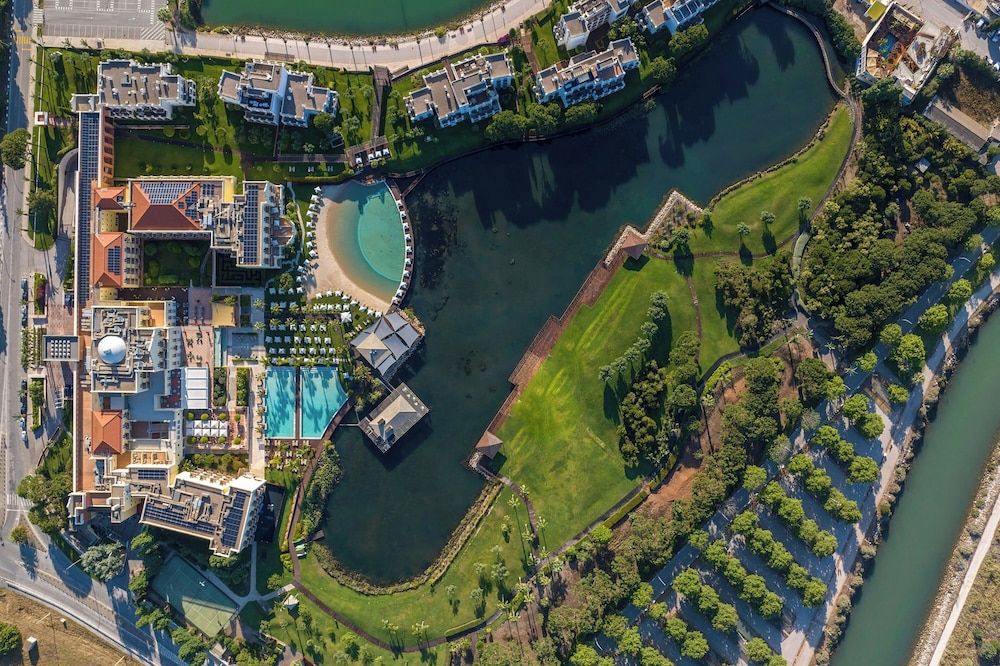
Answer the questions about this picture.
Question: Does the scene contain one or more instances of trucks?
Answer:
No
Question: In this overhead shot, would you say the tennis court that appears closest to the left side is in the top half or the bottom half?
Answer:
bottom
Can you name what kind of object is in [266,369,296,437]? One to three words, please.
swimming pool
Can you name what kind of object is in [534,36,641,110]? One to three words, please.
building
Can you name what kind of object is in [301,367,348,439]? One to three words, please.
swimming pool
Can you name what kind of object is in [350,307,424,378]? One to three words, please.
building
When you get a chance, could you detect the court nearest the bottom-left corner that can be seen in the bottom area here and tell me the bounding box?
[145,556,238,643]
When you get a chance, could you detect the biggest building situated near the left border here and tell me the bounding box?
[43,112,298,556]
